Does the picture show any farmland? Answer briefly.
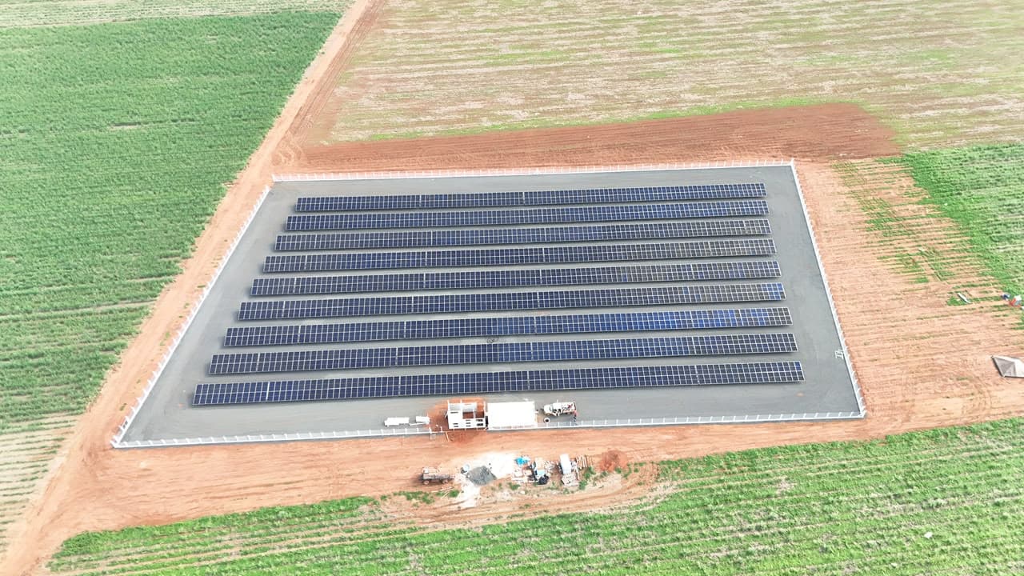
Yes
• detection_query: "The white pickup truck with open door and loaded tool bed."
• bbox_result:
[542,399,575,417]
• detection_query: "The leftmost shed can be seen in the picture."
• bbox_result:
[448,397,485,428]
